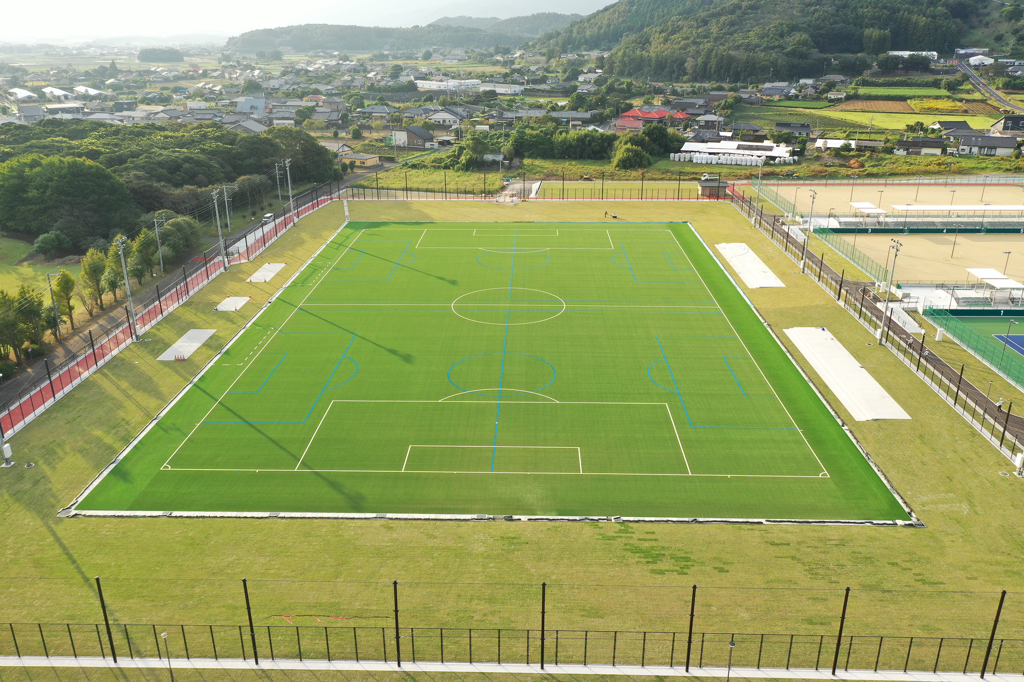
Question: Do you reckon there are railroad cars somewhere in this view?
No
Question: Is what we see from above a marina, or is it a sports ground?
sports ground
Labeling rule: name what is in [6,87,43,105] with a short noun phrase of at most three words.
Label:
barn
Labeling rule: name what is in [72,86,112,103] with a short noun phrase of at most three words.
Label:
barn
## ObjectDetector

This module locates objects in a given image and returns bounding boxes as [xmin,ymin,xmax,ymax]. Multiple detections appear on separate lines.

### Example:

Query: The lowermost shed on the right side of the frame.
[699,180,730,196]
